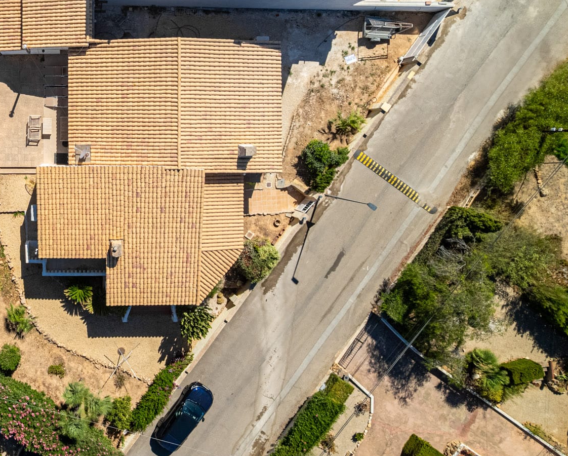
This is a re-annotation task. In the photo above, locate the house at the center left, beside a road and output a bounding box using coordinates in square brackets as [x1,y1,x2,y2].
[24,37,285,324]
